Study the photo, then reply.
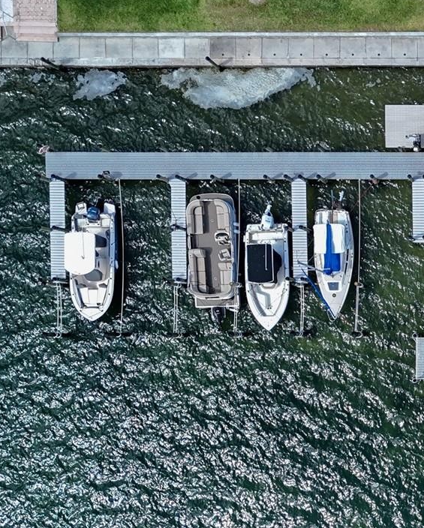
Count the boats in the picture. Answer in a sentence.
The picture shows 4 boats.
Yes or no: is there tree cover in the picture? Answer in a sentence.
No, there's no tree cover in this view.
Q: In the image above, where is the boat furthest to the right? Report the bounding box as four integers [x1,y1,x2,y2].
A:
[292,190,354,321]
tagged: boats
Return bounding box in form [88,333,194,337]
[242,206,290,331]
[64,201,121,322]
[186,193,240,324]
[292,190,354,321]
